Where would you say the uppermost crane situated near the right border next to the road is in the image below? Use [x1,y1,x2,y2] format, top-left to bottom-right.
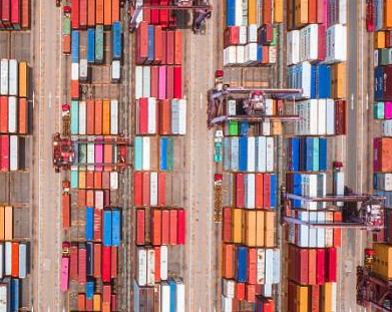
[287,185,388,226]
